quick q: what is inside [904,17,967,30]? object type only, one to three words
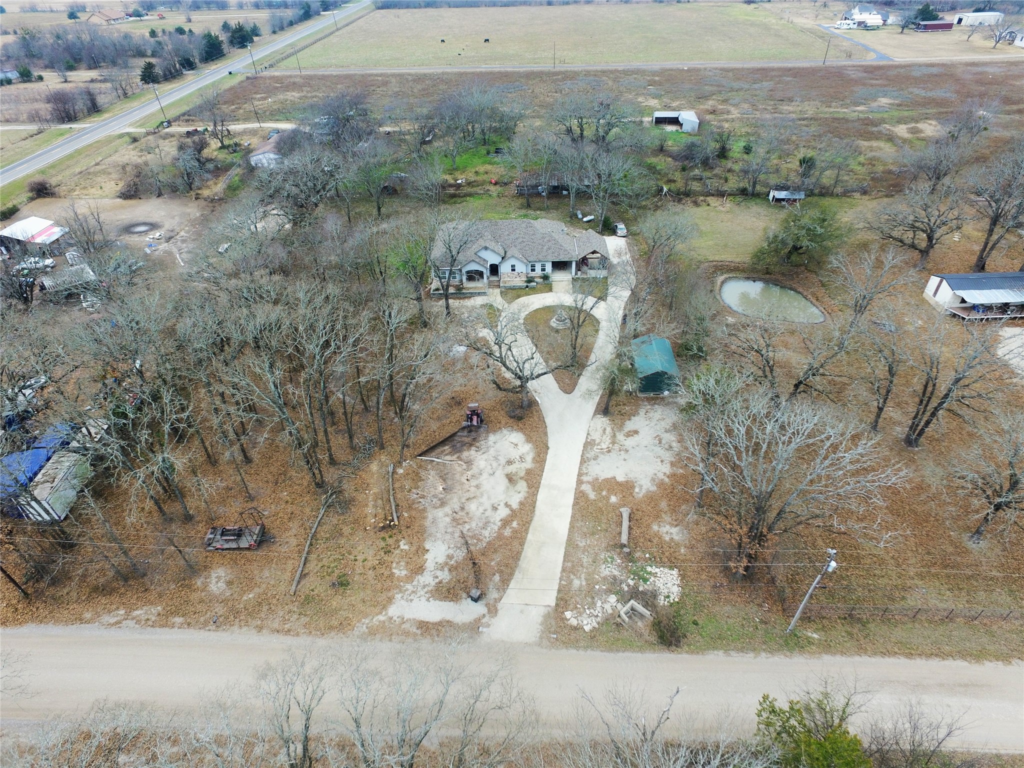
building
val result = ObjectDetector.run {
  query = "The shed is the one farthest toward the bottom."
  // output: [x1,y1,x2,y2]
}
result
[630,329,685,393]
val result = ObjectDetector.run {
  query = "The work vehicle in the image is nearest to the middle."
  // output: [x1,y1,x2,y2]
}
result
[463,396,484,439]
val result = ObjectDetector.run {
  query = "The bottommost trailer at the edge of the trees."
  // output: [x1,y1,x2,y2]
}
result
[202,501,277,549]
